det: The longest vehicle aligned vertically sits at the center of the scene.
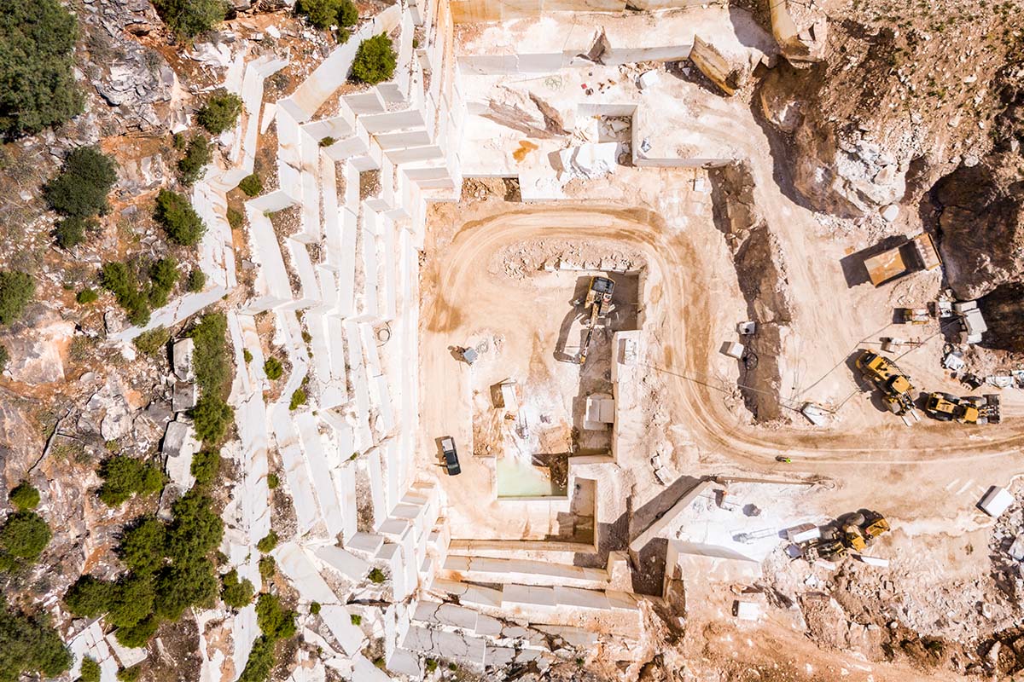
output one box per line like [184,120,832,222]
[582,273,617,358]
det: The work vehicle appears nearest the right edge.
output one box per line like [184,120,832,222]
[926,394,999,429]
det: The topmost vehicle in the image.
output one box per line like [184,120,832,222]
[857,234,939,287]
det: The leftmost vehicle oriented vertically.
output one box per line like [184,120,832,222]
[438,437,460,478]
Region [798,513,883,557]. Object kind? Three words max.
work vehicle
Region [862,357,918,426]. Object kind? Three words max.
work vehicle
